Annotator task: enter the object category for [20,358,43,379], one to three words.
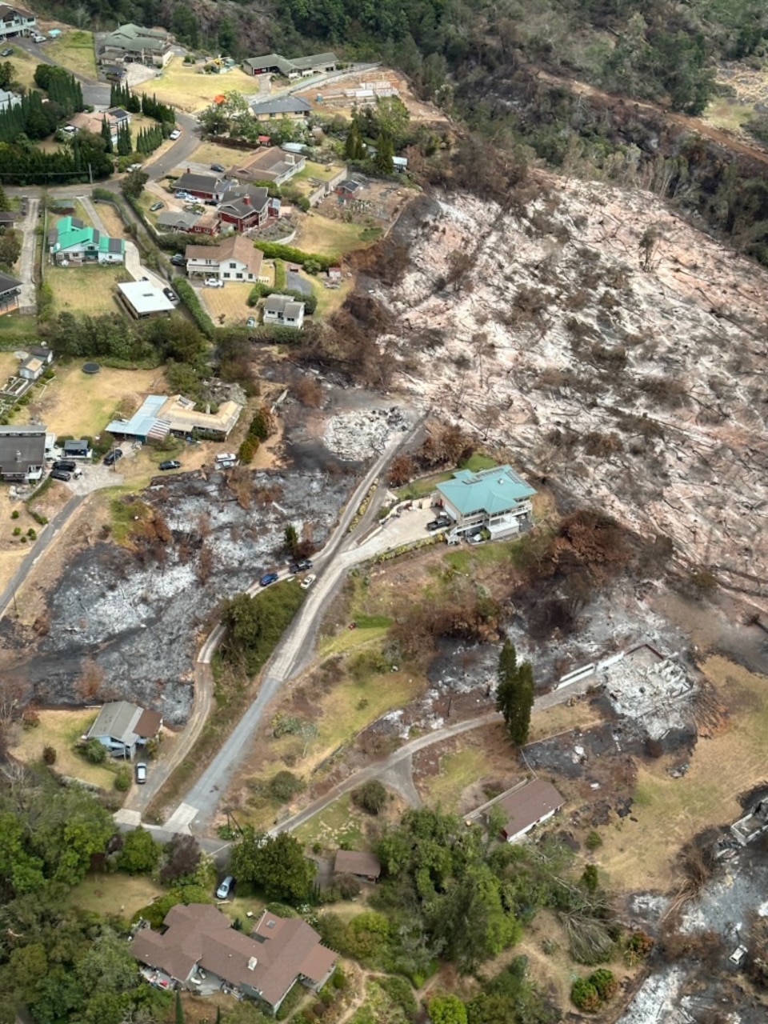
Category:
building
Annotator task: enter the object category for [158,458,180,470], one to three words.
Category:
vehicle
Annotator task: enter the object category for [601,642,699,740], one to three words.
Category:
house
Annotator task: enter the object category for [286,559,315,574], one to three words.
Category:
vehicle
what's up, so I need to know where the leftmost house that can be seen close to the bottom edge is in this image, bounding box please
[121,889,338,1012]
